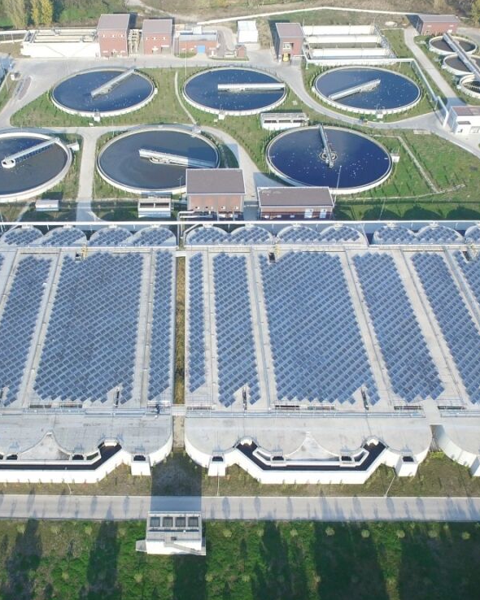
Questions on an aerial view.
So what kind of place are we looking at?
industrial area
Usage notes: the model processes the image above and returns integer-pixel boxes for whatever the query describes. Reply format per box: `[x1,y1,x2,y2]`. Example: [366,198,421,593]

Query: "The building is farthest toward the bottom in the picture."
[133,508,207,561]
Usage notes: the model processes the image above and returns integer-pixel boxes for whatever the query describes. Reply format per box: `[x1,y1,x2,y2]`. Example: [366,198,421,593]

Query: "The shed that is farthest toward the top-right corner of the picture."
[415,15,461,34]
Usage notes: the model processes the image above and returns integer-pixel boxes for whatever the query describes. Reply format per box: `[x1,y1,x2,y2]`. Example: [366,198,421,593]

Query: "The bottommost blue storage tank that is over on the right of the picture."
[265,121,394,195]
